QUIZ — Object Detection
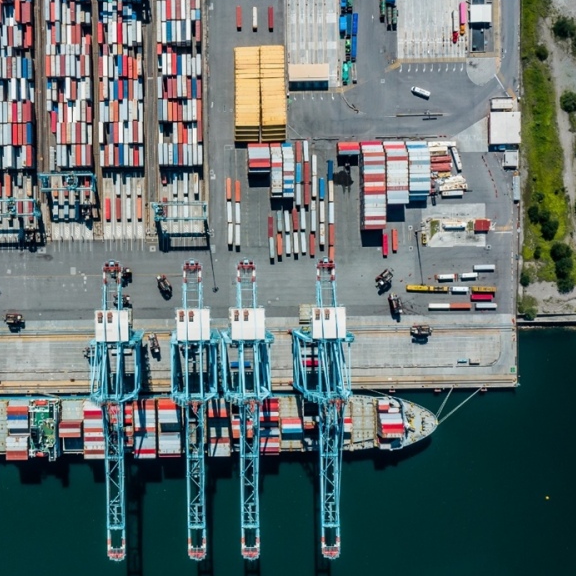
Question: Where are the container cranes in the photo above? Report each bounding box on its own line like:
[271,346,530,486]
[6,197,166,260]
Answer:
[167,261,223,560]
[154,200,210,227]
[40,173,100,201]
[282,260,354,558]
[0,197,43,225]
[217,261,275,559]
[91,262,150,561]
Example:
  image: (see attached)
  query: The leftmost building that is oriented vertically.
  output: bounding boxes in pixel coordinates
[471,23,485,53]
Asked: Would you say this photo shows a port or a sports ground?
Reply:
port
